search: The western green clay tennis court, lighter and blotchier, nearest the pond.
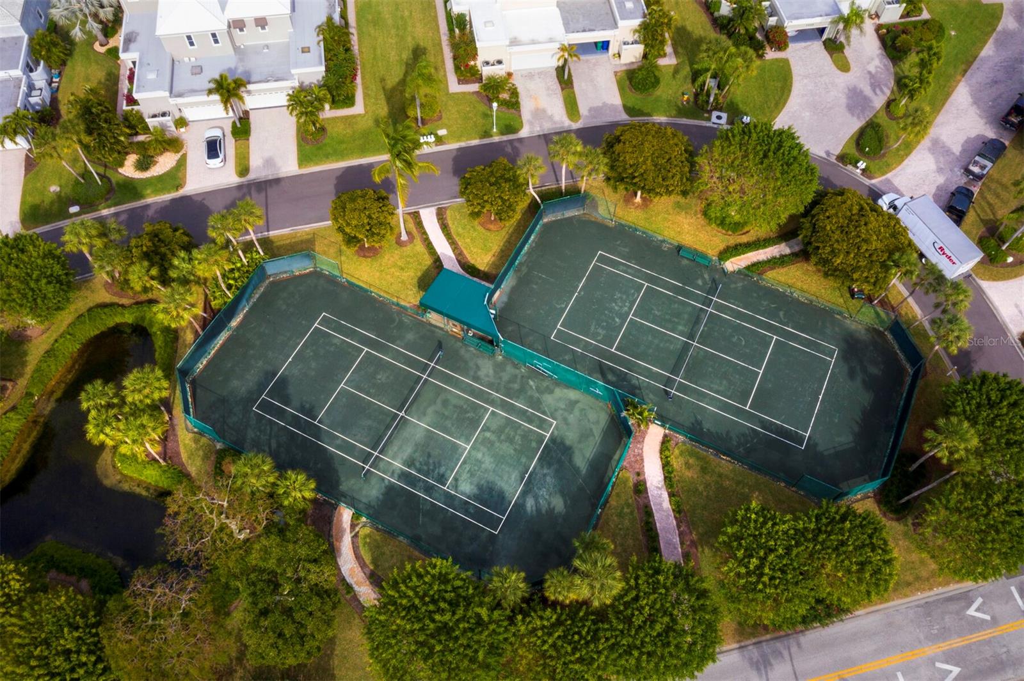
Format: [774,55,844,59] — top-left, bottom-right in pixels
[192,272,624,585]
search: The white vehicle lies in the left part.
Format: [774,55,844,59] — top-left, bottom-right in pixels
[201,130,226,169]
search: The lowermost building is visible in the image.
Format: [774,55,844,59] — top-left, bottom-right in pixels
[420,268,503,348]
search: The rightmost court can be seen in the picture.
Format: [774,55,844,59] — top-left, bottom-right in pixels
[491,215,909,489]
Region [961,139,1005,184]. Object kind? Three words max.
truck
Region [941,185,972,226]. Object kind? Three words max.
truck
